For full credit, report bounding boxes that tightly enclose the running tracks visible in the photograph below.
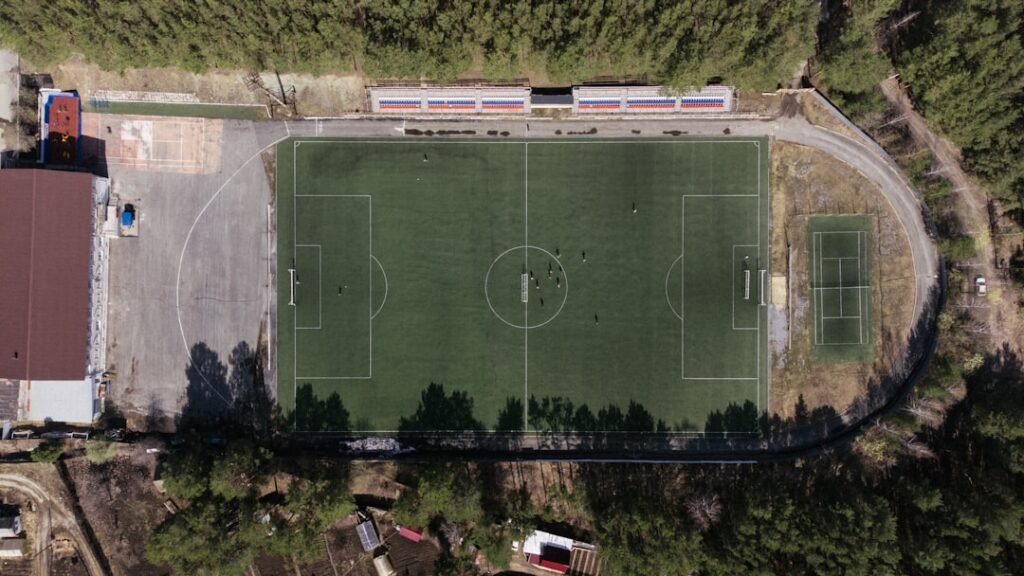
[177,115,944,457]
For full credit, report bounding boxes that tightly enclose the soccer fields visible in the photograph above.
[276,137,771,437]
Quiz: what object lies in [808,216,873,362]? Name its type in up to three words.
tennis court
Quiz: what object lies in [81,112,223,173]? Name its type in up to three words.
basketball court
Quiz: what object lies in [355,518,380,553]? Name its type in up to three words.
shed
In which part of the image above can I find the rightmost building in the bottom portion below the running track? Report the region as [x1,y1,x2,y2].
[523,525,574,576]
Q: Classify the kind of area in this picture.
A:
sports ground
